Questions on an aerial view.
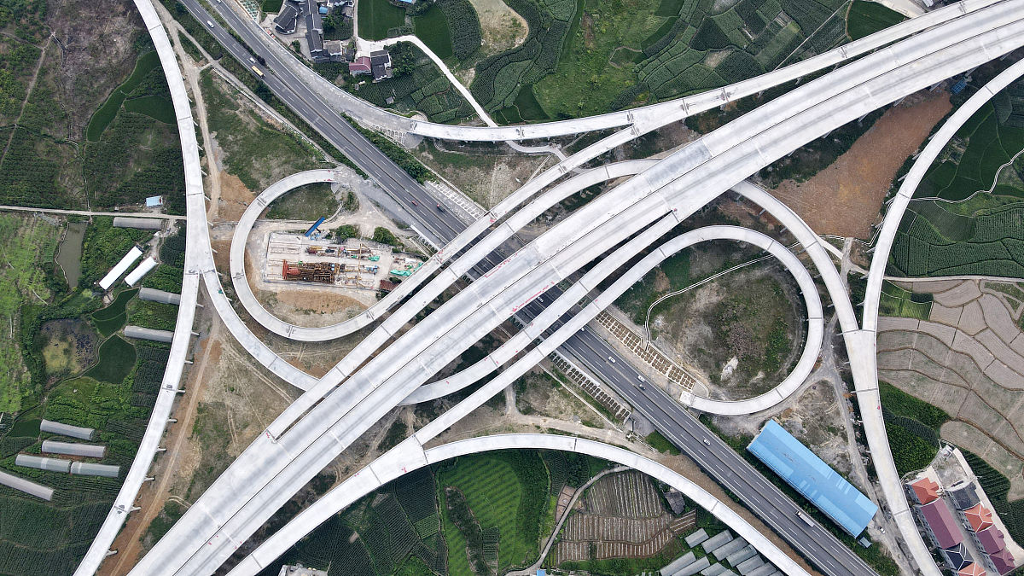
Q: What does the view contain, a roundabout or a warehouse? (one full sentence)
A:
It is a warehouse that can be seen here.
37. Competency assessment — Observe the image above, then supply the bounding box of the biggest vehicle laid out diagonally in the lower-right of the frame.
[795,510,817,529]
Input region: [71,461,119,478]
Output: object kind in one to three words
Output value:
greenhouse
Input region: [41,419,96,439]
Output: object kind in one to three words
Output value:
greenhouse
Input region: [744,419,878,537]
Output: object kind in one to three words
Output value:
warehouse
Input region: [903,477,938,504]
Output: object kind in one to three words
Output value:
house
